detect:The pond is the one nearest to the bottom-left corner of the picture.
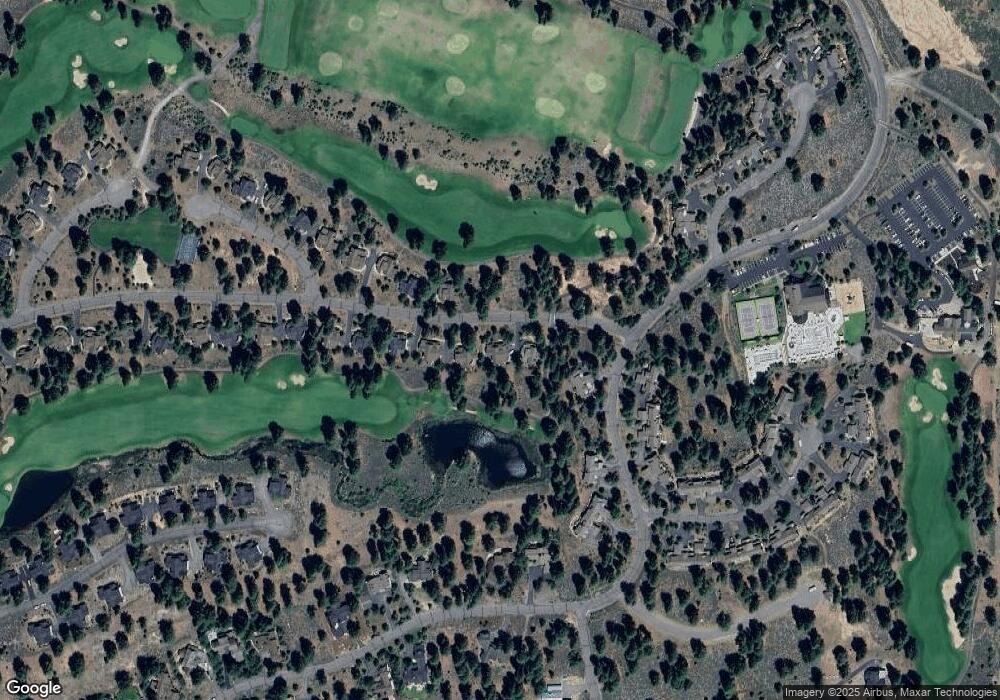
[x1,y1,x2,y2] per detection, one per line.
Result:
[1,470,76,535]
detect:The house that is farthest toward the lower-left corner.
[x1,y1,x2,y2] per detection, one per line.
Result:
[25,619,55,646]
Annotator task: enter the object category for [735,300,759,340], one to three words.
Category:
tennis court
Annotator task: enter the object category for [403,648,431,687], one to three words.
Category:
house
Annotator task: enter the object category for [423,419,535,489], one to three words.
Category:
pond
